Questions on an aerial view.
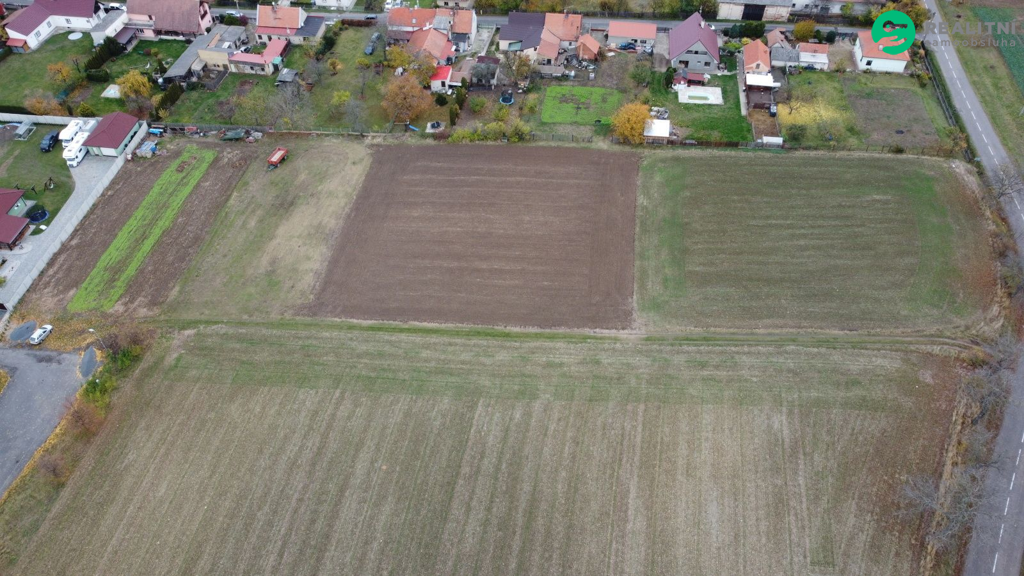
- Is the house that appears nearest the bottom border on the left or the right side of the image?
left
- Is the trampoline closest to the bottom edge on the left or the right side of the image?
left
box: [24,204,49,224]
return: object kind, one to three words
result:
trampoline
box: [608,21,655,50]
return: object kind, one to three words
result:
house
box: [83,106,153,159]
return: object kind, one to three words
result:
building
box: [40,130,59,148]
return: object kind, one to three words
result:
vehicle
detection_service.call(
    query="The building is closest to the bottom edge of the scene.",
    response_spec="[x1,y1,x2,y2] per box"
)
[0,186,33,253]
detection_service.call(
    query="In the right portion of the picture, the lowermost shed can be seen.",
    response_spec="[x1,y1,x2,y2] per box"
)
[643,120,670,145]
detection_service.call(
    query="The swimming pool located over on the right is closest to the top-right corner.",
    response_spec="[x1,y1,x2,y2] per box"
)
[678,86,724,104]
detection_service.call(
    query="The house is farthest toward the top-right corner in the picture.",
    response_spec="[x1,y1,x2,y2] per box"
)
[854,33,910,75]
